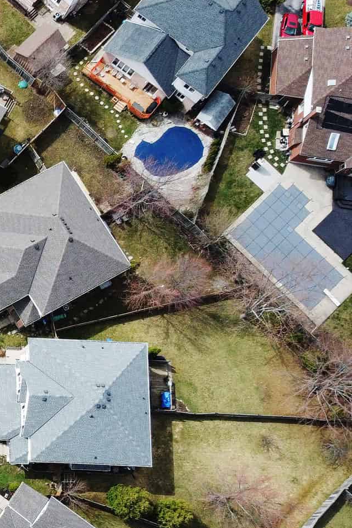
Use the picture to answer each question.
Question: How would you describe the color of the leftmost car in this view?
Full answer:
From above, the leftmost car appears red.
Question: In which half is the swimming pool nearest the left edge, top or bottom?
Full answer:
It is in the top half that the swimming pool nearest the left edge appears.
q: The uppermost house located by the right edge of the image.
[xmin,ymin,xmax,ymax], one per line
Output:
[265,14,352,174]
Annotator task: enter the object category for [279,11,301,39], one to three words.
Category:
car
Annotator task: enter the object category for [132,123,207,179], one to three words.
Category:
swimming pool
